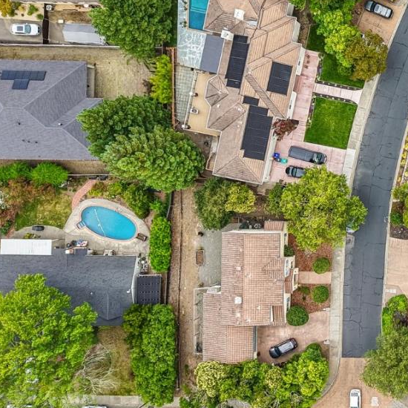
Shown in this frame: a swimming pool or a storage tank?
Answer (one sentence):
Visible in the photo is a swimming pool.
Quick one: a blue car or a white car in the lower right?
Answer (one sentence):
Looking in the lower right, you will find a white car.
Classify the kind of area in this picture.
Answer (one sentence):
This image shows a residential area.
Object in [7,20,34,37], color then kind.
white car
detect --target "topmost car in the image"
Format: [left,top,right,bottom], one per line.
[361,0,394,20]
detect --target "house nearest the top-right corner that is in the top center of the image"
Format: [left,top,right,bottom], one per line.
[183,0,310,184]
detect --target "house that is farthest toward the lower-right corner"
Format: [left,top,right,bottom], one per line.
[202,220,298,365]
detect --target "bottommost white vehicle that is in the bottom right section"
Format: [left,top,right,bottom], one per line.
[345,386,363,408]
